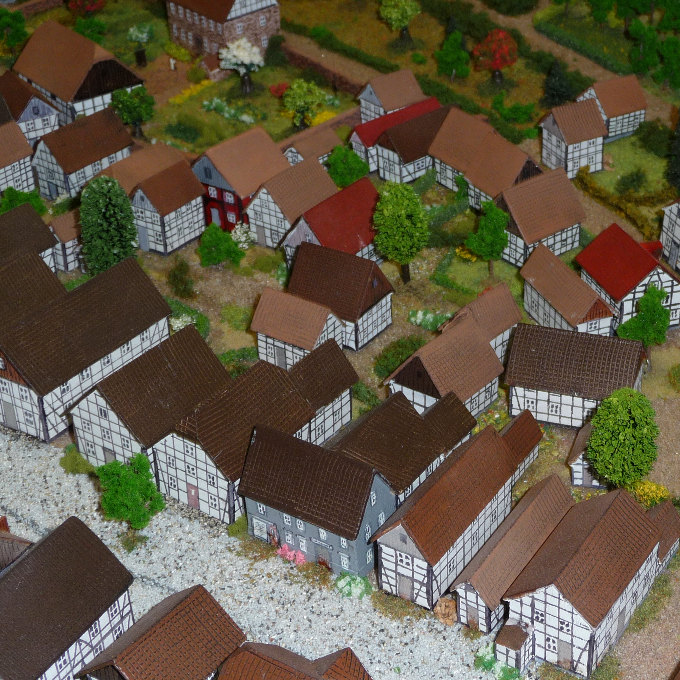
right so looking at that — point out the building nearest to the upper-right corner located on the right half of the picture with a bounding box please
[577,75,646,143]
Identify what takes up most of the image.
buildings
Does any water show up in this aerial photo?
No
